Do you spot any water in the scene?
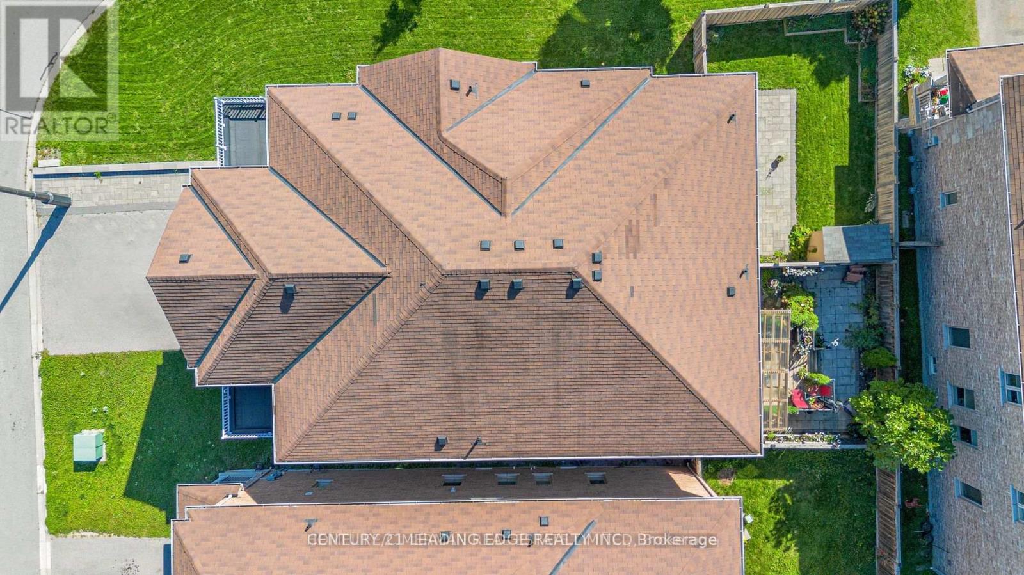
No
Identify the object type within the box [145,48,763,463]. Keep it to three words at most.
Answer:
house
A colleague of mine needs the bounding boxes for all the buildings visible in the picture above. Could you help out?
[808,222,889,263]
[145,48,763,463]
[171,461,744,575]
[907,42,1024,575]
